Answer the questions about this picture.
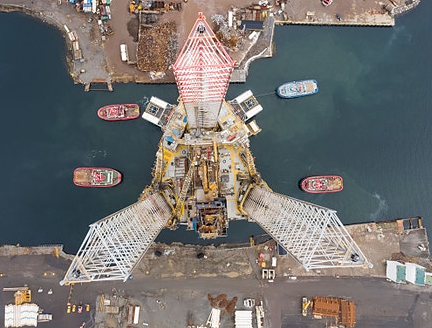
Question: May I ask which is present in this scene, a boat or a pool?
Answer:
boat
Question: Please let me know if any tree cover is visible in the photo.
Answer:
No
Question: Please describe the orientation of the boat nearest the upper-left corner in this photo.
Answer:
horizontally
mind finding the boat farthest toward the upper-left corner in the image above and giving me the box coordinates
[96,101,140,120]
